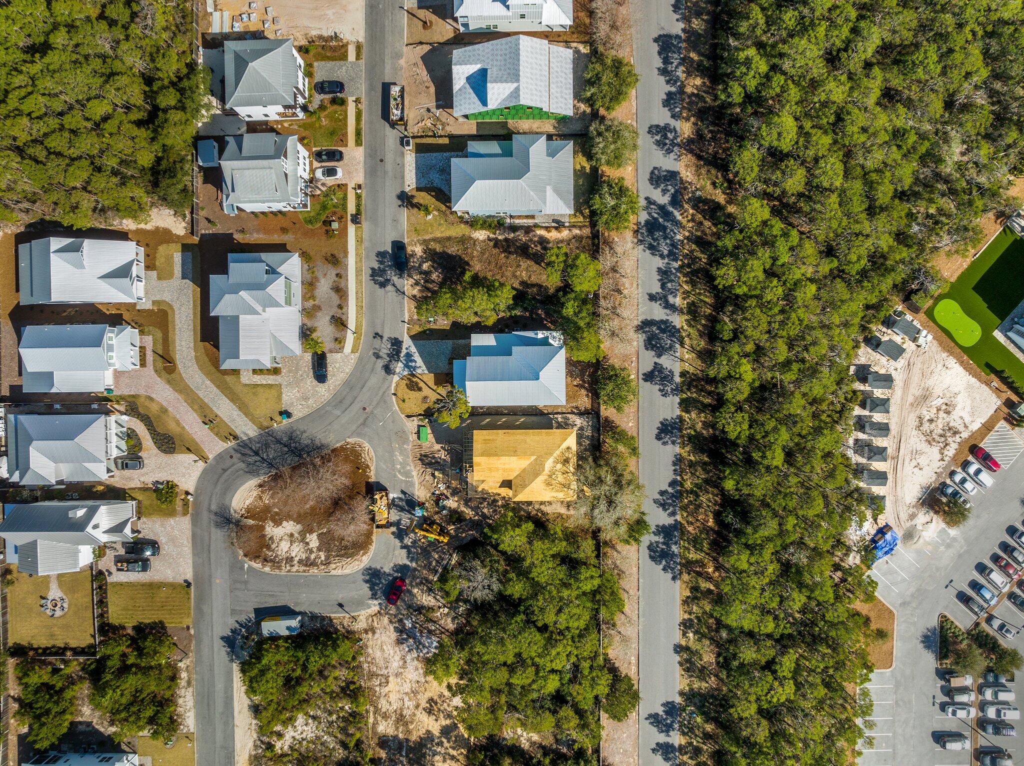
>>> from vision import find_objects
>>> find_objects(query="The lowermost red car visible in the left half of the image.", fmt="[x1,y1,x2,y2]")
[385,575,407,608]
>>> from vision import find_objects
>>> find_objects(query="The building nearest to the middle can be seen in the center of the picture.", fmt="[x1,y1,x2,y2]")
[453,331,566,406]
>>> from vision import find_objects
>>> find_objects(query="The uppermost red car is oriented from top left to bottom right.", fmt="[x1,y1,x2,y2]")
[970,443,1005,473]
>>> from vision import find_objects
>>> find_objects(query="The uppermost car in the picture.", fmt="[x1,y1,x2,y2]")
[315,79,345,95]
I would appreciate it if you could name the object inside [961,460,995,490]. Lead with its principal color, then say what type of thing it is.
white car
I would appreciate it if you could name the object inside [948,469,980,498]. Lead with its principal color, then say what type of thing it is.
white car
